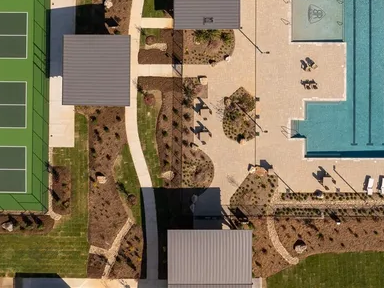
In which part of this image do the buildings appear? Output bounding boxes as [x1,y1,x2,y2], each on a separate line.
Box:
[63,35,131,106]
[168,229,253,288]
[174,0,241,29]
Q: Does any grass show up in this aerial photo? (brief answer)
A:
Yes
